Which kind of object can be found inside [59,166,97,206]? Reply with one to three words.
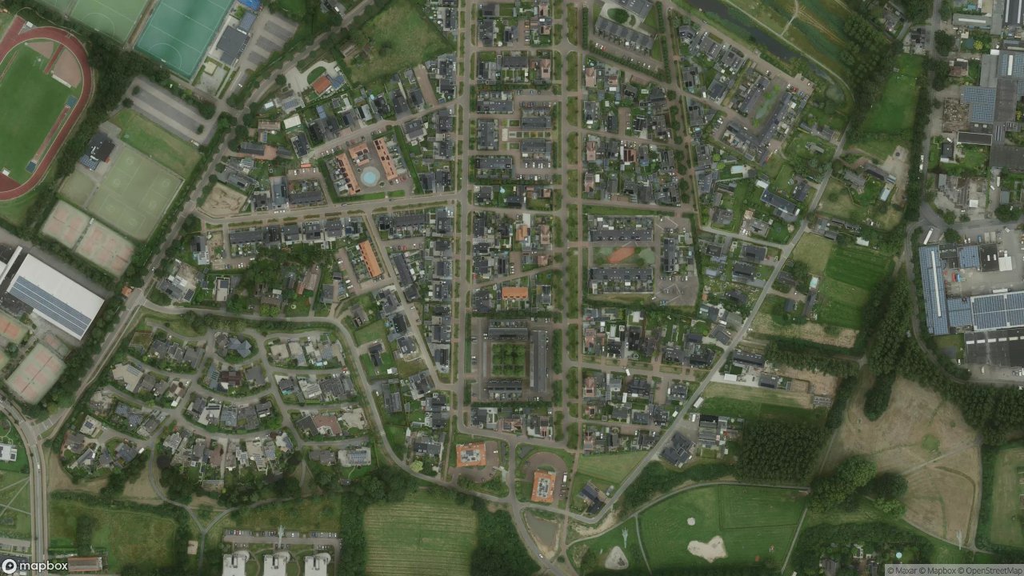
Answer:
sports field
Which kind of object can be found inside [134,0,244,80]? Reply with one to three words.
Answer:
sports field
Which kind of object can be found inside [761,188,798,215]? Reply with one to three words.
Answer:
barn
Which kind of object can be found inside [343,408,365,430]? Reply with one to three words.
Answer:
building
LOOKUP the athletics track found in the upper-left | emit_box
[0,15,94,199]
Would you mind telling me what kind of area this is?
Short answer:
residential area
